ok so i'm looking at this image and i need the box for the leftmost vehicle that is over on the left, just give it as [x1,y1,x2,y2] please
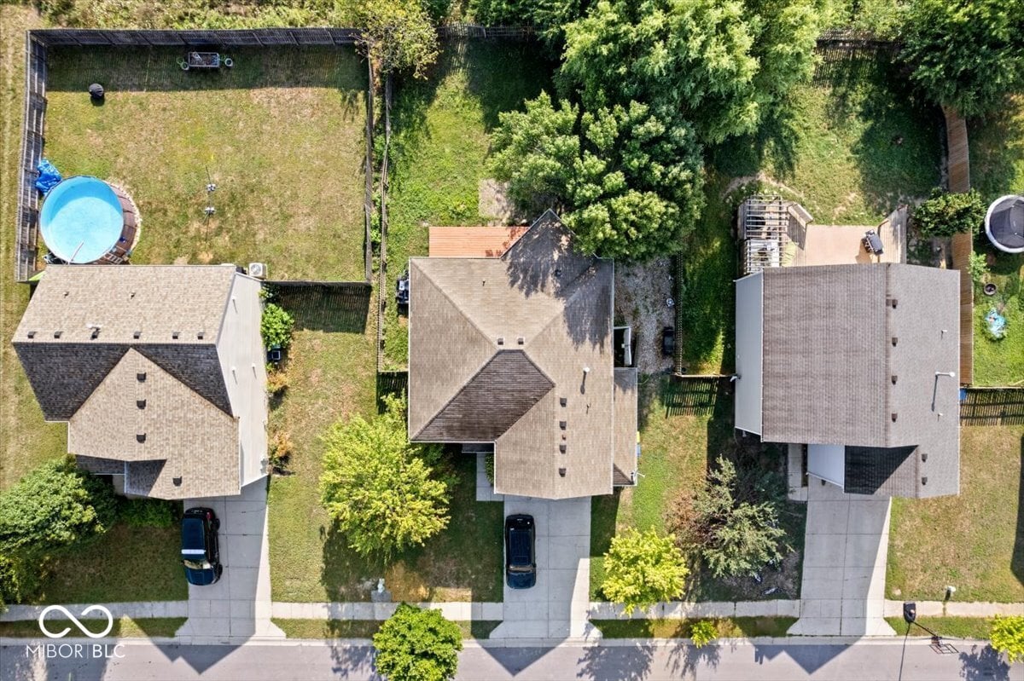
[178,506,221,586]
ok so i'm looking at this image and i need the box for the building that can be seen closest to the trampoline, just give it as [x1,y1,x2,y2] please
[723,263,961,502]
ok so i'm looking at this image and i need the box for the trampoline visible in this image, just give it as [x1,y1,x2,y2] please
[976,193,1024,255]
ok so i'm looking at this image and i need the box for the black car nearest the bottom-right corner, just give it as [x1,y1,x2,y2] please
[501,511,540,591]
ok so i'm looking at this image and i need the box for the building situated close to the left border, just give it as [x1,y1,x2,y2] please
[14,262,269,501]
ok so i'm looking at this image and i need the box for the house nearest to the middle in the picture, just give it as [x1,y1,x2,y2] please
[407,209,639,501]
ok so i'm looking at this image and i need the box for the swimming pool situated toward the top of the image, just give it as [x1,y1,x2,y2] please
[40,177,137,262]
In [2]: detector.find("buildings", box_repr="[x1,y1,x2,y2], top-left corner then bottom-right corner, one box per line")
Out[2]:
[14,262,269,501]
[723,263,961,502]
[407,209,639,501]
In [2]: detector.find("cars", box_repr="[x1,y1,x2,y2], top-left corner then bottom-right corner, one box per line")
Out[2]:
[178,506,221,586]
[501,511,540,591]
